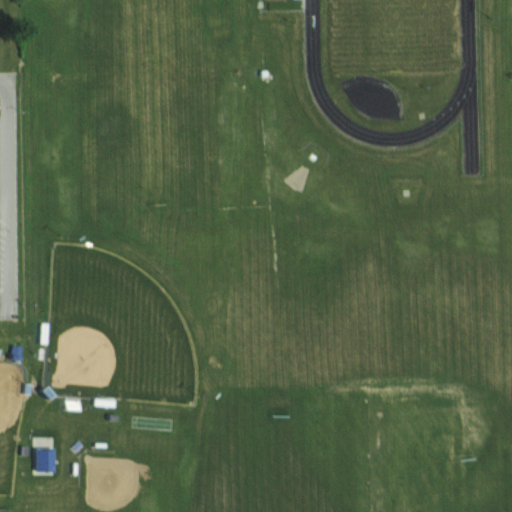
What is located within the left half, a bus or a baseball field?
baseball field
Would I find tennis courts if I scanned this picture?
No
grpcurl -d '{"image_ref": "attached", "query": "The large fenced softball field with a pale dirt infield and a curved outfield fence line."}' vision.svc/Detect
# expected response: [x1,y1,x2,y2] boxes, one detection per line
[46,243,195,403]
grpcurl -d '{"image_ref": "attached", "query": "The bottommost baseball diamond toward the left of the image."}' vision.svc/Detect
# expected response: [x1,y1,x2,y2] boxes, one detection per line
[84,455,150,511]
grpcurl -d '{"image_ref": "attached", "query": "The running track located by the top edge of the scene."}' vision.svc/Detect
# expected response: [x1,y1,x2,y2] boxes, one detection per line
[304,0,480,174]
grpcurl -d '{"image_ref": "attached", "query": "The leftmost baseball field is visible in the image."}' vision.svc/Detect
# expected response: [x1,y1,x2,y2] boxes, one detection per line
[0,363,26,495]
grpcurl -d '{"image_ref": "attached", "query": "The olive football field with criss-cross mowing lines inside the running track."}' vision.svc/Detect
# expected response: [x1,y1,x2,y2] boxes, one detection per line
[329,0,459,75]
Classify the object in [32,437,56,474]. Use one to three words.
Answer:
building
